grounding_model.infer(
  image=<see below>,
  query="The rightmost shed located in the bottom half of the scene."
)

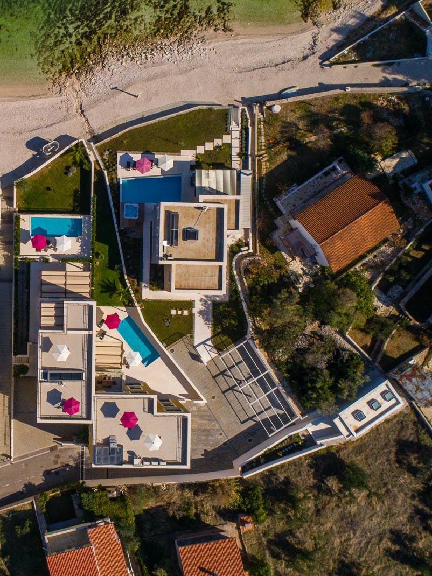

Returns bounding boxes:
[395,366,432,407]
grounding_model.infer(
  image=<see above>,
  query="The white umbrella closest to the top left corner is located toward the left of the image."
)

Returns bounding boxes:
[157,153,173,172]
